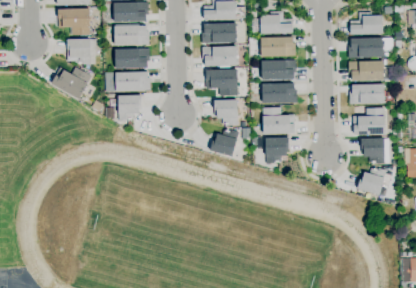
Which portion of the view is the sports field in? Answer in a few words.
bottom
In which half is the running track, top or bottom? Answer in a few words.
bottom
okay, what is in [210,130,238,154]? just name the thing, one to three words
house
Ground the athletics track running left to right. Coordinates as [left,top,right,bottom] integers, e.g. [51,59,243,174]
[17,144,390,288]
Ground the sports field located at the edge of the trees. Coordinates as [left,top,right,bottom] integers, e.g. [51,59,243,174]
[38,162,372,288]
